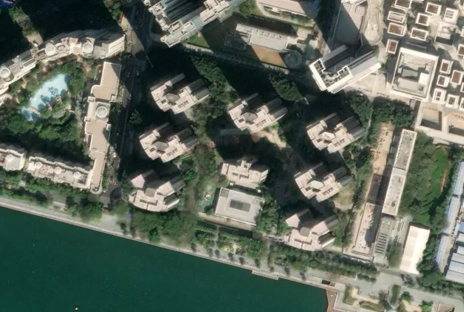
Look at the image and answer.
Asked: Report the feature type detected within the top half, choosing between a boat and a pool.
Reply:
pool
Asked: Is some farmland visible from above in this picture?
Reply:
No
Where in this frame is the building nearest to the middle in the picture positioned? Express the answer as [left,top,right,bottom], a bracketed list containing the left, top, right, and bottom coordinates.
[221,156,272,189]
